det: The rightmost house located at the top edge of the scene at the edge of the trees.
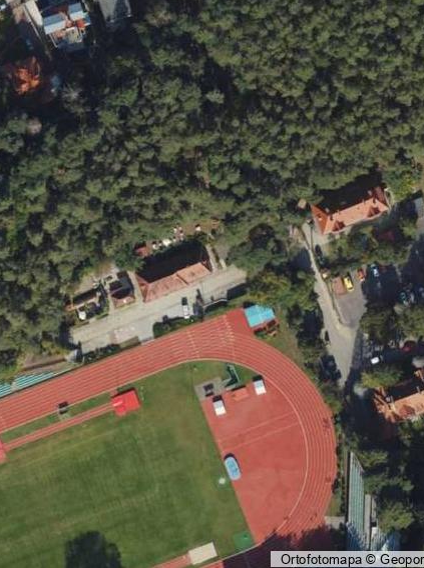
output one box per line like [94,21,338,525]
[93,0,131,22]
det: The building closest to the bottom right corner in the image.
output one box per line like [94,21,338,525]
[369,362,424,425]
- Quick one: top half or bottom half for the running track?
bottom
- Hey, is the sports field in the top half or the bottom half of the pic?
bottom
